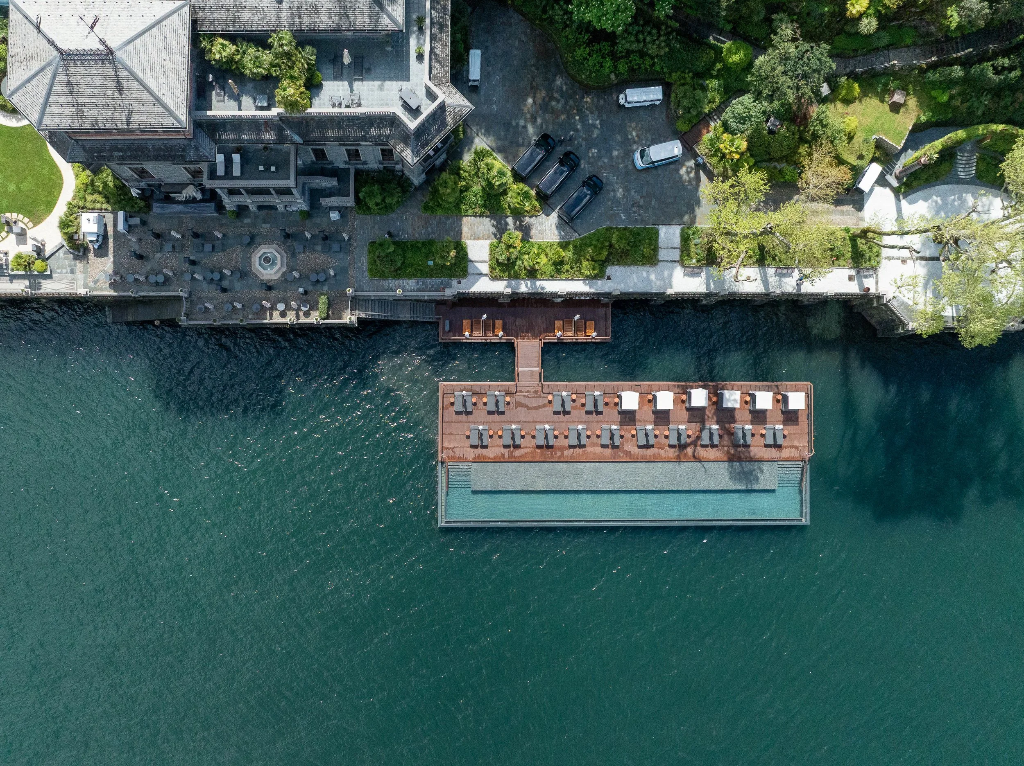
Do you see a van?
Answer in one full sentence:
Yes, a van is visible in the scene.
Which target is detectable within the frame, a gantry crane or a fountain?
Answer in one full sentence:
The one in the frame is a fountain.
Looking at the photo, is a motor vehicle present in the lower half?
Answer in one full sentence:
No, I see no motor vehicle in the lower half.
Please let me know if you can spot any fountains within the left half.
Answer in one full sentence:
Yes, the scene does show a fountain within the left half.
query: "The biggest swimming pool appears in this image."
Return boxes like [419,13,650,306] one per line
[439,368,813,526]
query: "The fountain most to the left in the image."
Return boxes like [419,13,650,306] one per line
[252,245,287,280]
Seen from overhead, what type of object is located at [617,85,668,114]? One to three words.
vehicle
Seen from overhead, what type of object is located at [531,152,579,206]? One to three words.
van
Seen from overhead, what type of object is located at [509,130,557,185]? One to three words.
van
